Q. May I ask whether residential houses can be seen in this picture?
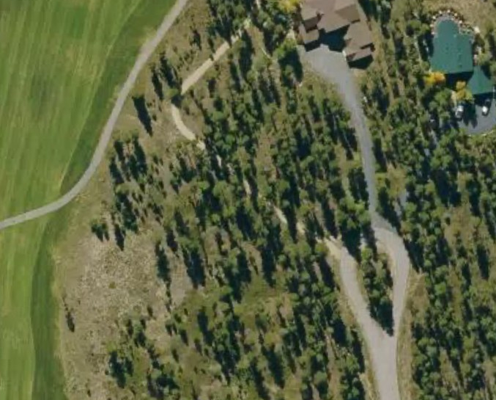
Yes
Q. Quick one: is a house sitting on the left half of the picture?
No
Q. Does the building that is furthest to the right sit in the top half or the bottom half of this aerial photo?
top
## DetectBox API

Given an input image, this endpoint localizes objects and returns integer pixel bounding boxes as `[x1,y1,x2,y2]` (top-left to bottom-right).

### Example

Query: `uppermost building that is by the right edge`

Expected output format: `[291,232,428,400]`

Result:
[432,16,474,73]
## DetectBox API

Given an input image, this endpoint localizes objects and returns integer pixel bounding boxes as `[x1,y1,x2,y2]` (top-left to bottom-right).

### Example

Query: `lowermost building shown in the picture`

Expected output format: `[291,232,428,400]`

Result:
[466,65,495,94]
